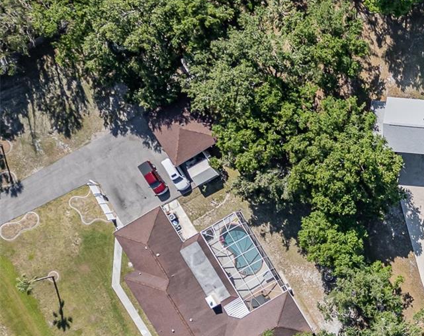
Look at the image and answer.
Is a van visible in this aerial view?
Yes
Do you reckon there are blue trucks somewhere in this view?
No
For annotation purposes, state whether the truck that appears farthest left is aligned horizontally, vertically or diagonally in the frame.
diagonally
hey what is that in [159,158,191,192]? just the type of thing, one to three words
van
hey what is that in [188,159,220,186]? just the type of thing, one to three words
shed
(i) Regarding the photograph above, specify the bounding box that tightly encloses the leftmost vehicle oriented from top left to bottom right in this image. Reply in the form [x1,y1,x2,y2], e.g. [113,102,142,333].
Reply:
[138,159,170,197]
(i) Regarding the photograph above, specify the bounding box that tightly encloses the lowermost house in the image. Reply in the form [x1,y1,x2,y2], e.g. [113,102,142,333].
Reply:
[114,206,315,336]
